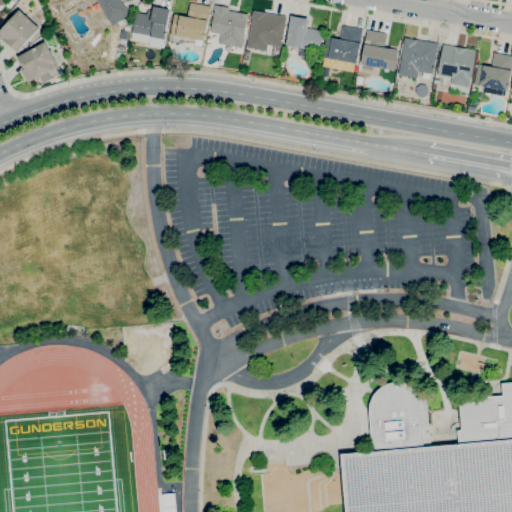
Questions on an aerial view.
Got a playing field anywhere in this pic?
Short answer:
Yes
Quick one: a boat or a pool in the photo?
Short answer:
pool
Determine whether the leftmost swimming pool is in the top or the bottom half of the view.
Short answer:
top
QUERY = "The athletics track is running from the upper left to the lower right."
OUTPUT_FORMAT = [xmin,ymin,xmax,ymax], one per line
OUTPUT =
[0,344,160,512]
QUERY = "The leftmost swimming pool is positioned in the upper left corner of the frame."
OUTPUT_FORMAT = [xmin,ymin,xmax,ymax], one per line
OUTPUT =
[68,12,90,37]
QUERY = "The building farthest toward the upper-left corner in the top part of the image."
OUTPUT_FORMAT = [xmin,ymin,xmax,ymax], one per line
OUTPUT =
[0,8,37,51]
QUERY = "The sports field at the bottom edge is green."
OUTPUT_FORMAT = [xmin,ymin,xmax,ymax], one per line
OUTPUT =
[0,404,140,512]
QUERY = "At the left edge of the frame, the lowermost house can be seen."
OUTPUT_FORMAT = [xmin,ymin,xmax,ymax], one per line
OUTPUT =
[17,40,58,83]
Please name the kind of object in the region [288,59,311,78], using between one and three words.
swimming pool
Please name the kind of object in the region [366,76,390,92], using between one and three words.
swimming pool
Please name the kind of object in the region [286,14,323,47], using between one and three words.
house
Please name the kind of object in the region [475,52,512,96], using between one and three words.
house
